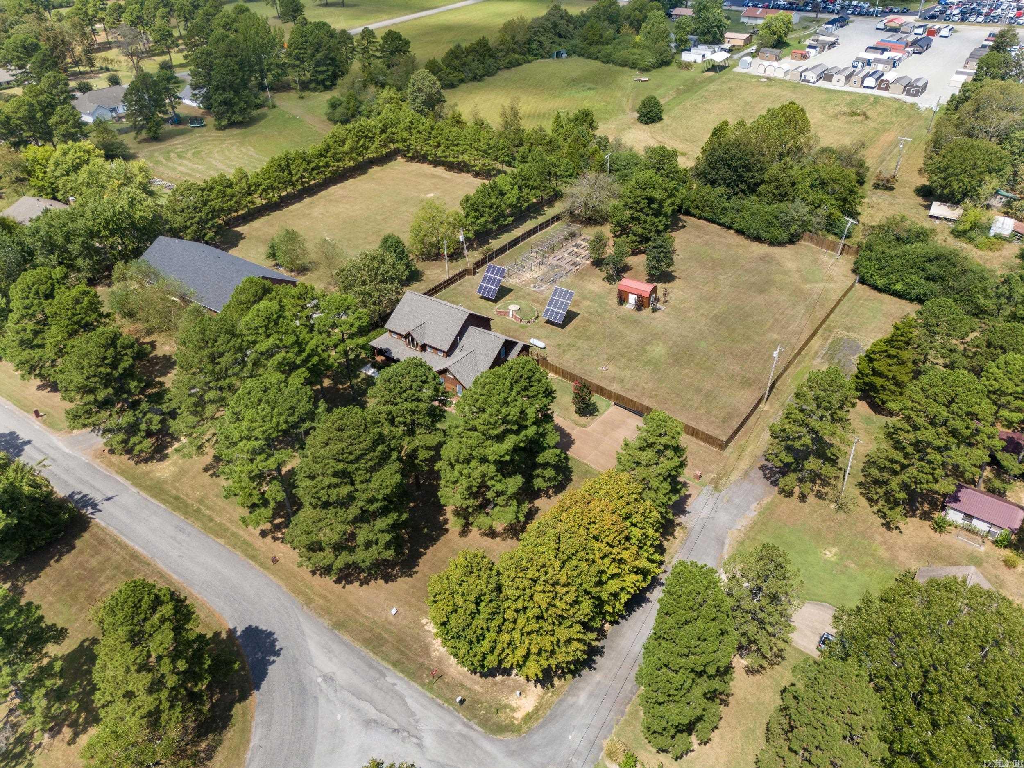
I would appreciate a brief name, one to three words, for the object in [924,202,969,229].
shed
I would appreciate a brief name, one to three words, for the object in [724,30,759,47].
house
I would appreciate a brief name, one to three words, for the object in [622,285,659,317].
shed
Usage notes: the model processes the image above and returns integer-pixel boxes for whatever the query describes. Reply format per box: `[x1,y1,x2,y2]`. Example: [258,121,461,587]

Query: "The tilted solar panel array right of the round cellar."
[542,288,572,325]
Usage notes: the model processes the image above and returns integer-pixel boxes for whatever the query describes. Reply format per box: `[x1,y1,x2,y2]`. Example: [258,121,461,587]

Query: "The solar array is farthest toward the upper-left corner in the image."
[478,265,505,299]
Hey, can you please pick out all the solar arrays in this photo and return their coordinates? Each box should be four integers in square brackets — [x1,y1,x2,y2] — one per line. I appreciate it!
[478,265,505,299]
[542,288,572,325]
